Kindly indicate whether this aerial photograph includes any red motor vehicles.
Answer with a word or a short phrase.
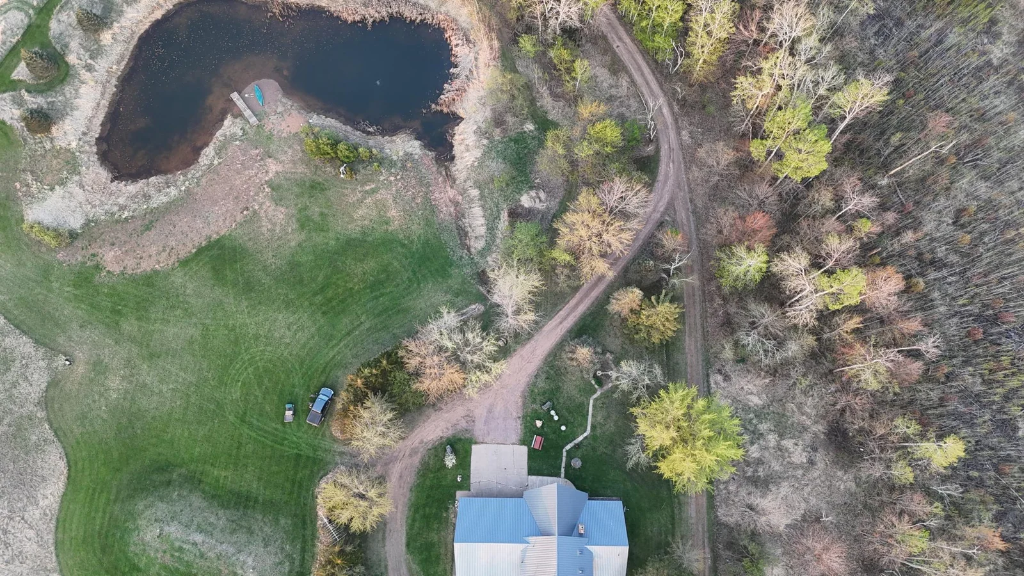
No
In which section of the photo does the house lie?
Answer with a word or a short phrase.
bottom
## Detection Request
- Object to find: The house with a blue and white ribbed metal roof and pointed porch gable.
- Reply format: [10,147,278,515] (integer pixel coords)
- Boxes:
[454,482,628,576]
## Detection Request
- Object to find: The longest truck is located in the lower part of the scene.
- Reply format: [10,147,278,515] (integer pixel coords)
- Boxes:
[307,386,333,429]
